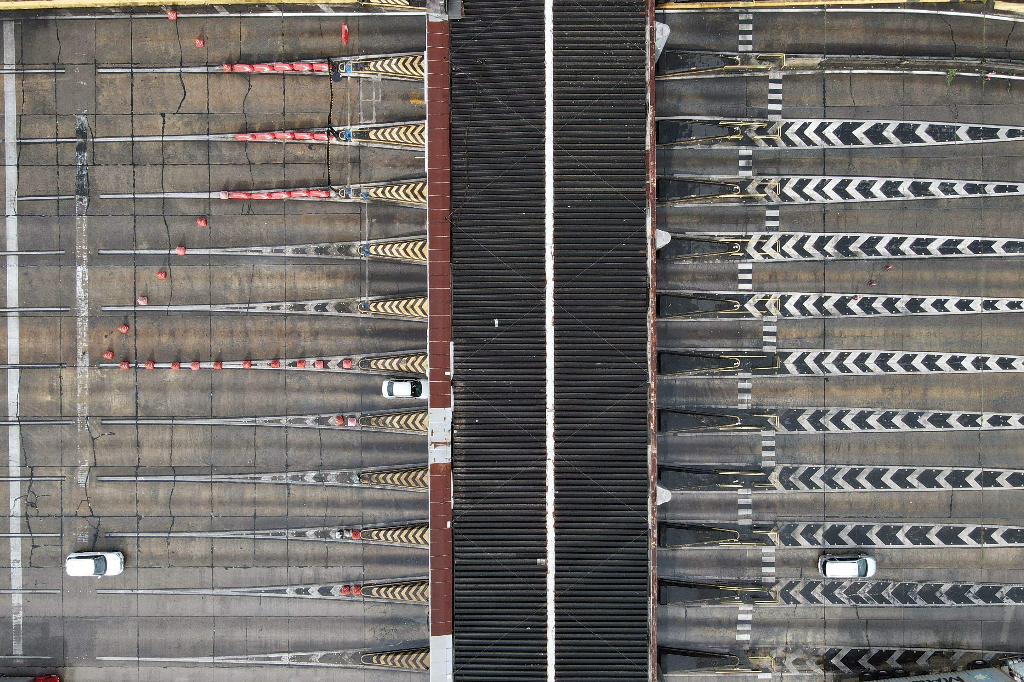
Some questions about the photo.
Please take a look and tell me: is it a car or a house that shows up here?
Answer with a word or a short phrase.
car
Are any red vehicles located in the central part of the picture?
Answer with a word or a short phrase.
No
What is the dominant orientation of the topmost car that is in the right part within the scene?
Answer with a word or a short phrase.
from side to side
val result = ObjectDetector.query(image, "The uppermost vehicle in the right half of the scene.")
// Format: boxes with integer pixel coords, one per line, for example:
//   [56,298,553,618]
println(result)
[818,552,877,582]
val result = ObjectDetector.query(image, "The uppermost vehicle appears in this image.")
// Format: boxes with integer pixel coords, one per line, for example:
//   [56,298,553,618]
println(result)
[382,375,428,403]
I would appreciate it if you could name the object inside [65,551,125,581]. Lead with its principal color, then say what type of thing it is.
white car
